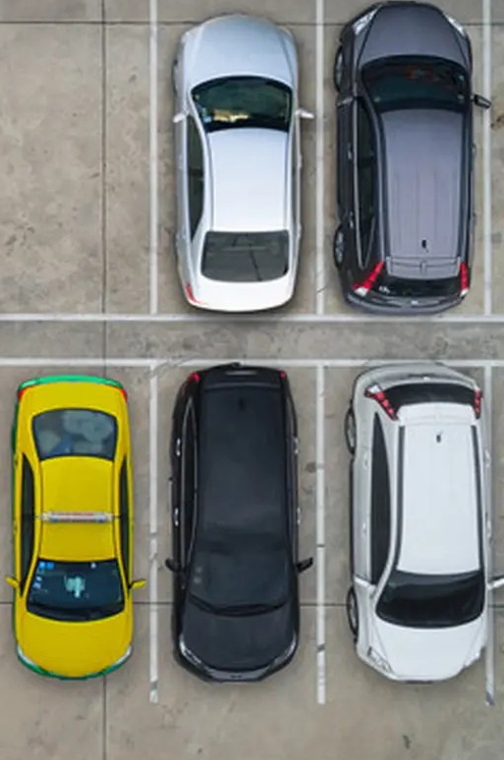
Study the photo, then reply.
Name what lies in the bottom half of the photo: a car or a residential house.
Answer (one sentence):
You can see a car in the bottom half of the photo.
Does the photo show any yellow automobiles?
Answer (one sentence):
Yes, I can see a yellow automobile in this picture.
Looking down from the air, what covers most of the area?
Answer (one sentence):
For the most part, this view shows paved ground.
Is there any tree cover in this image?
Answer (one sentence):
No, there is no tree cover in the image.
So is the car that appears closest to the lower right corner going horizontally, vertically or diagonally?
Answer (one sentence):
The car that appears closest to the lower right corner is laid out vertically.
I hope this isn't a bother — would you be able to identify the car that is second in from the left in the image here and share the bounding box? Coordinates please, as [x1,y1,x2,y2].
[169,15,310,312]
